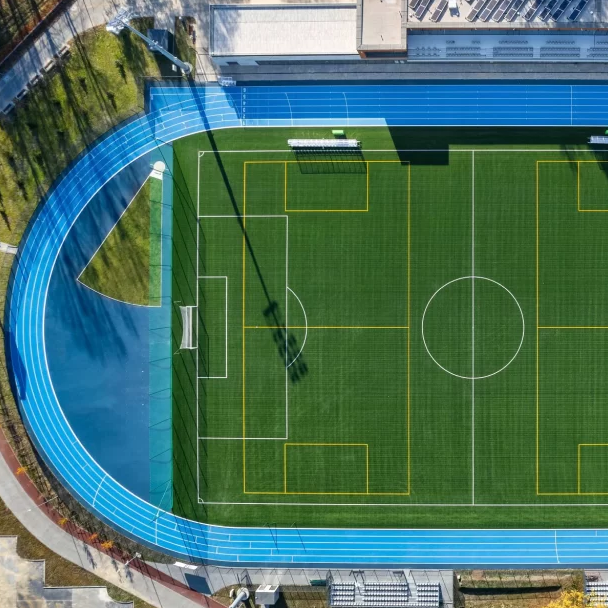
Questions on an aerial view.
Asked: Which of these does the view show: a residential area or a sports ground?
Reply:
sports ground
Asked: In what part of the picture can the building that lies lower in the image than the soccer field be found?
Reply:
bottom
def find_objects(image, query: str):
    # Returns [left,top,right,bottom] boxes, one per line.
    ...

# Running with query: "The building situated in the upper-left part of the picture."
[147,30,175,55]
